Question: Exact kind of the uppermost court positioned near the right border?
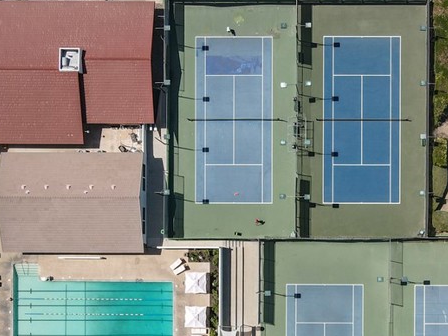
tennis court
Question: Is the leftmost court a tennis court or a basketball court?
tennis court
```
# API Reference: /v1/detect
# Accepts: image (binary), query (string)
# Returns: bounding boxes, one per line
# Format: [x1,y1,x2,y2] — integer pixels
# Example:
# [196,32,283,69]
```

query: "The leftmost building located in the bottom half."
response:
[0,152,148,253]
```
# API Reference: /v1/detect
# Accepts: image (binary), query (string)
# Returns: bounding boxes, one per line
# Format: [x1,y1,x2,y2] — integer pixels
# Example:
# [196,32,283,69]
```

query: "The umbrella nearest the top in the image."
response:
[185,272,207,293]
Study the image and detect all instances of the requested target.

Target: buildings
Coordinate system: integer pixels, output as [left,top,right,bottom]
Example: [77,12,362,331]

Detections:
[0,0,155,145]
[0,152,148,253]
